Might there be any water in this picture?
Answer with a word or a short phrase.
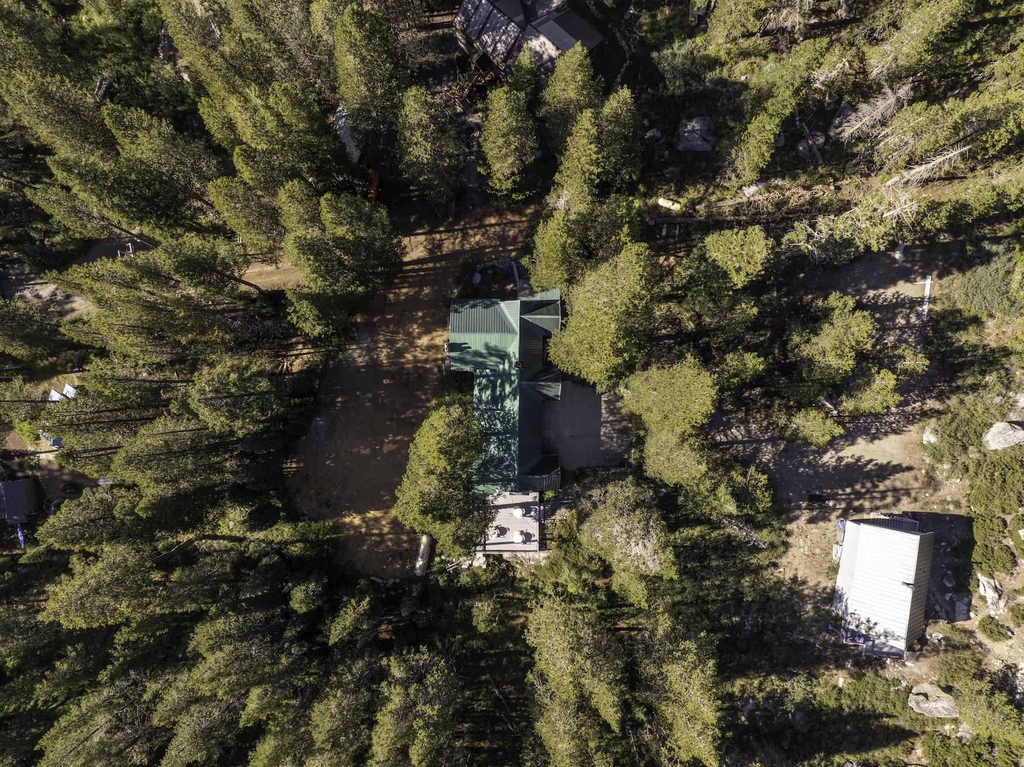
No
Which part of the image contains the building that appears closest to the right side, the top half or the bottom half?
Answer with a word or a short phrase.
bottom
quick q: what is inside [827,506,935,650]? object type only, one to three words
building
